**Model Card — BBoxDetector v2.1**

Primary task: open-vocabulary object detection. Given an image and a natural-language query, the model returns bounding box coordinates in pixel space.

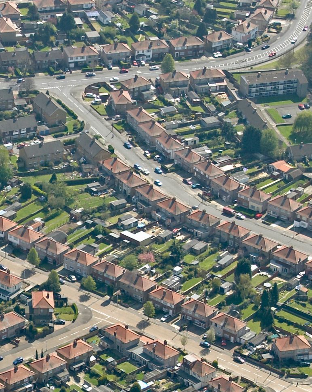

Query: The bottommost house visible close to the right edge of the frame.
[272,339,311,370]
